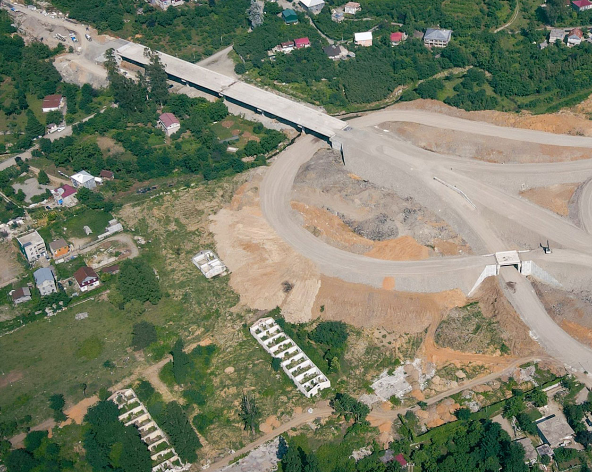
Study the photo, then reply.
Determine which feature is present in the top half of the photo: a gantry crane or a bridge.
bridge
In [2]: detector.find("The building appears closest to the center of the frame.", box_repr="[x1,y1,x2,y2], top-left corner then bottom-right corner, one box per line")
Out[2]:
[195,254,226,283]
